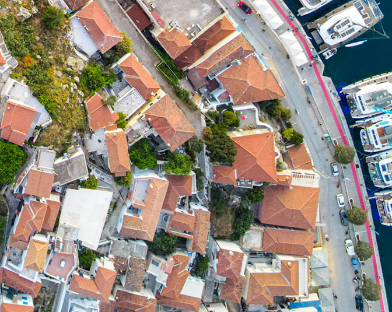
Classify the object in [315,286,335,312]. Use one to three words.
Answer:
umbrella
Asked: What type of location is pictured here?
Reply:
residential area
